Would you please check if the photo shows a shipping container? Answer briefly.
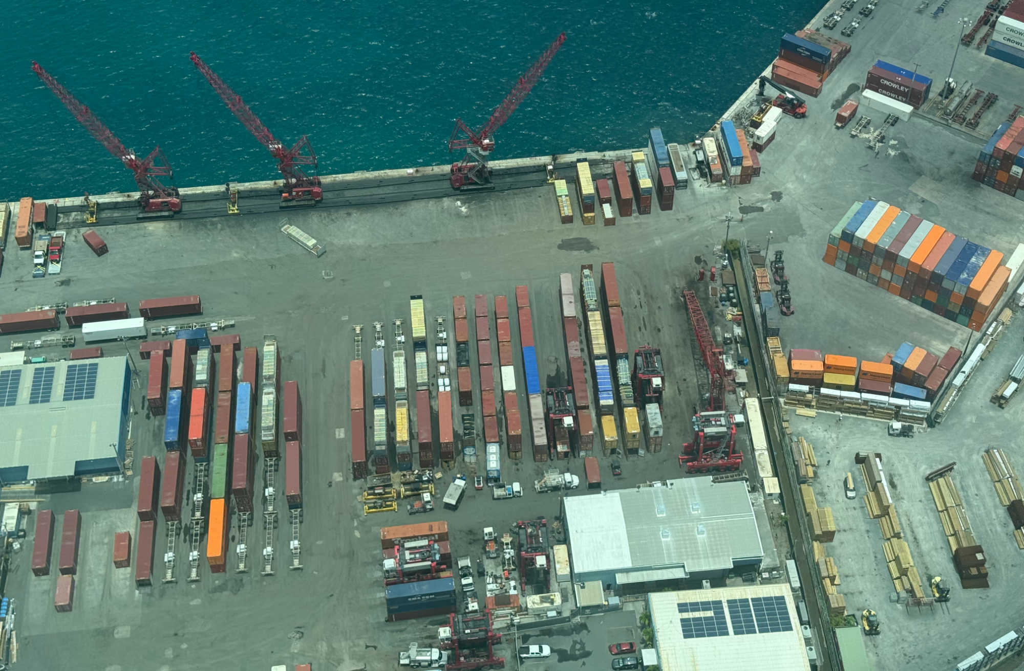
Yes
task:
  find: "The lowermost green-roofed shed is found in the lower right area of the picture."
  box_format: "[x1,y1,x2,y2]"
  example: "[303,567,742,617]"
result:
[833,626,870,671]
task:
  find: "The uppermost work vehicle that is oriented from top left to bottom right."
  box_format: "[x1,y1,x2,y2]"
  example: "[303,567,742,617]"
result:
[762,78,809,116]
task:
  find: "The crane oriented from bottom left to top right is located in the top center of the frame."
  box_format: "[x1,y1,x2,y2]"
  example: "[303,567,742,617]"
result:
[452,30,568,191]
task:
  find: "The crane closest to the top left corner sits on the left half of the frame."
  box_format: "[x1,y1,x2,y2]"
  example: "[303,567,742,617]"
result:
[30,59,177,217]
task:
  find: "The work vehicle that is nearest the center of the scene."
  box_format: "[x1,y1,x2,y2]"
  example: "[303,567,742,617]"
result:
[543,383,576,452]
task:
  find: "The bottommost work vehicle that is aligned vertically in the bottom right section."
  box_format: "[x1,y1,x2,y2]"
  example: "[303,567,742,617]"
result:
[863,608,880,649]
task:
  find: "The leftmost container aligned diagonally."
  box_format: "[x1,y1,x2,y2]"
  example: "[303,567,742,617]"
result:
[83,229,109,257]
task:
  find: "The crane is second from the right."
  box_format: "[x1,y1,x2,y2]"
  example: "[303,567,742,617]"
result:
[189,49,319,206]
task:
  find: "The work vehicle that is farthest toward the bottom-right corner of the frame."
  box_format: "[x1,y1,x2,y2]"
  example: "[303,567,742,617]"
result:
[928,577,951,617]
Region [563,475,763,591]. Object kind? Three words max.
building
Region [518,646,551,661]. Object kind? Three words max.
vehicle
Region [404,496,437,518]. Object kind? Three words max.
truck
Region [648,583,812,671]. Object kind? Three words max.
shed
